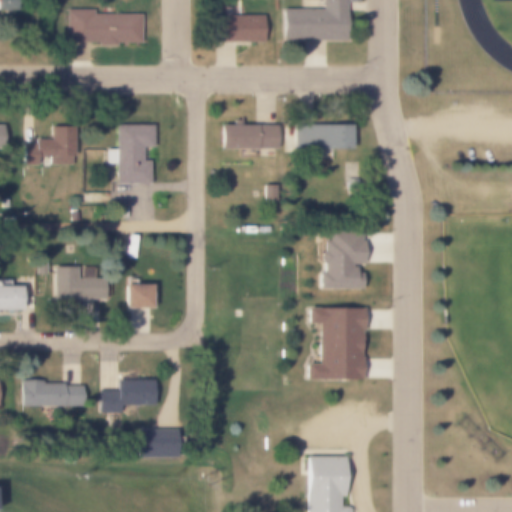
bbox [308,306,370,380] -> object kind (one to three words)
house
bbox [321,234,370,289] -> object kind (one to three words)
house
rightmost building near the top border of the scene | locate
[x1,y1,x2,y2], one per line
[284,0,355,42]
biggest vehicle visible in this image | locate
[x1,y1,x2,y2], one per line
[128,231,141,258]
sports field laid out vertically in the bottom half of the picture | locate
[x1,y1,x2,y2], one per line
[442,212,512,442]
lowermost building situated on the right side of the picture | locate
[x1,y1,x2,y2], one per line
[306,456,354,512]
